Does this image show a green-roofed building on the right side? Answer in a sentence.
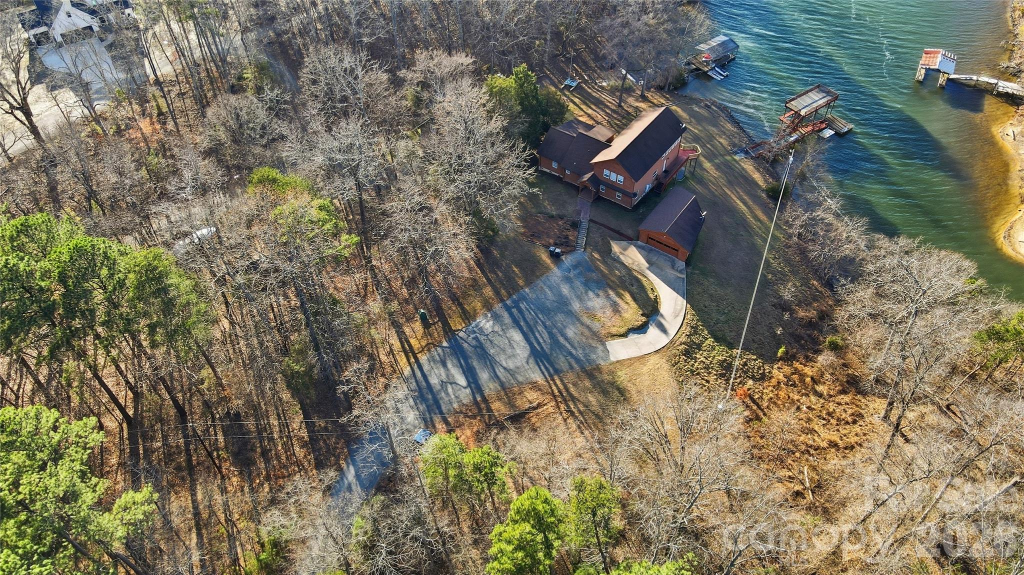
No, looking on the right side, there is no green-roofed building.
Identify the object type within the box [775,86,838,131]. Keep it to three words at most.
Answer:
pier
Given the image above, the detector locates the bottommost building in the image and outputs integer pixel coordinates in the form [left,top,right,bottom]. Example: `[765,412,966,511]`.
[638,192,721,263]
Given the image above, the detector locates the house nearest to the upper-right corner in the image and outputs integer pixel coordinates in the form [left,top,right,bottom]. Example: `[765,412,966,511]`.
[915,48,958,87]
